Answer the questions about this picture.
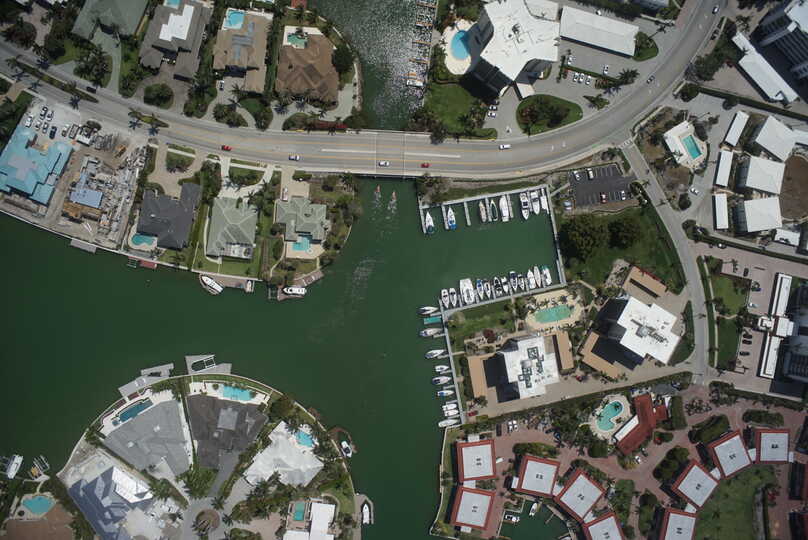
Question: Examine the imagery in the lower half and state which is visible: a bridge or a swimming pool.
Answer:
swimming pool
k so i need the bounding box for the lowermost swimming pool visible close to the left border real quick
[21,496,56,517]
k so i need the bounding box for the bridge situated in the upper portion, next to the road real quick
[371,132,410,177]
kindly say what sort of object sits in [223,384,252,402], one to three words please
swimming pool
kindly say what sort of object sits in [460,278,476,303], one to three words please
boat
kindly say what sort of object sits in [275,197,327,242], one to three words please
house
